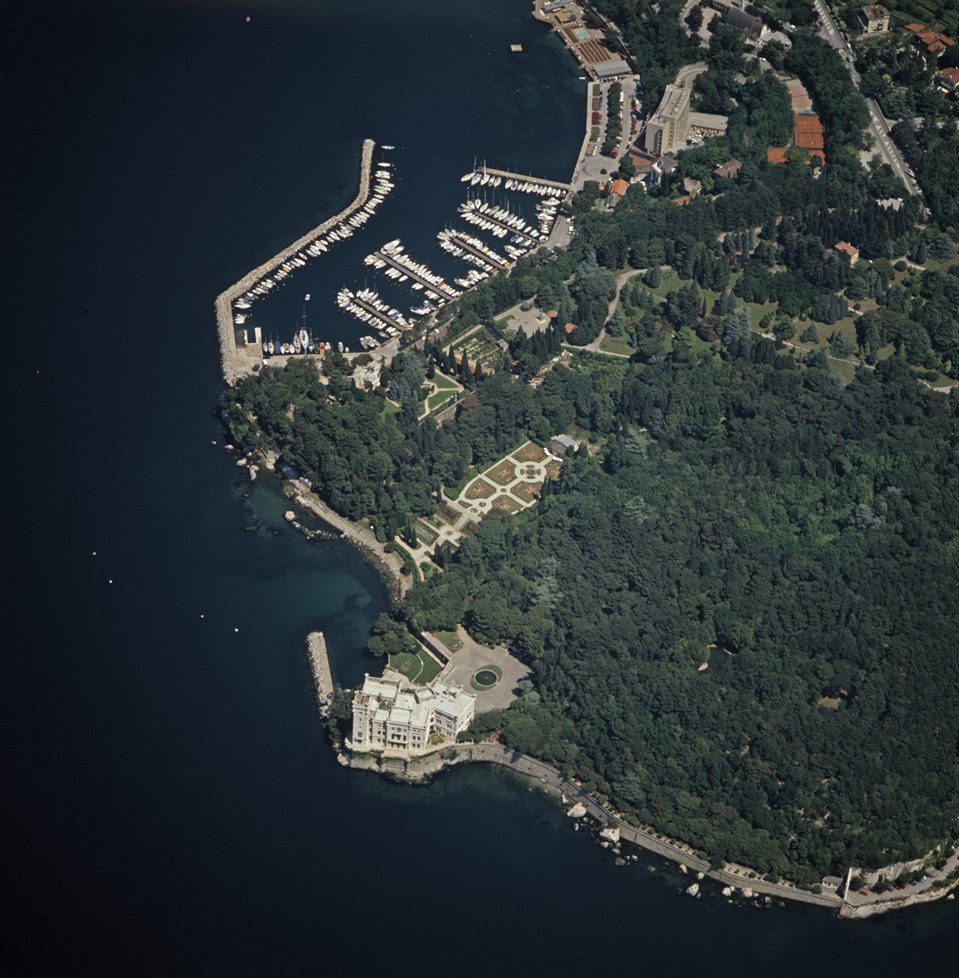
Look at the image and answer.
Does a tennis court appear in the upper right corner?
Yes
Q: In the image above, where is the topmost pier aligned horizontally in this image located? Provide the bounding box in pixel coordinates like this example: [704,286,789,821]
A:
[477,166,570,188]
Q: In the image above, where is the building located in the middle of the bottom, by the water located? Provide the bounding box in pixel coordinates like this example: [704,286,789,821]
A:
[350,673,480,755]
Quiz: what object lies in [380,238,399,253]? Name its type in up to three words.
boat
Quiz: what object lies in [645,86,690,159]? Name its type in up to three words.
building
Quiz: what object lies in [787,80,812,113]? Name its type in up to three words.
tennis court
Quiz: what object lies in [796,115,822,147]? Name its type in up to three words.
tennis court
